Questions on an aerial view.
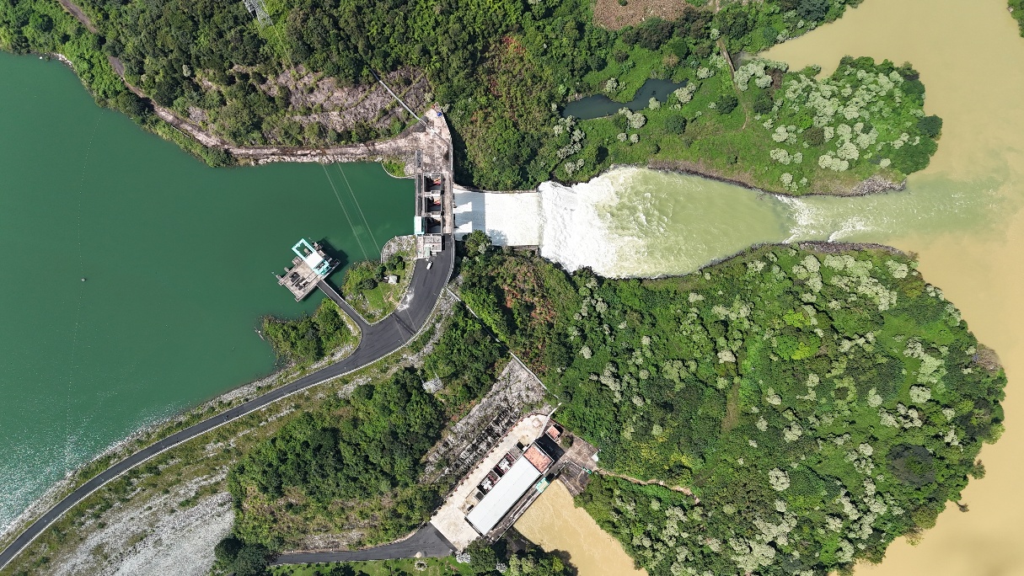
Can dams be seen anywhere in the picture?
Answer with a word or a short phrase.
Yes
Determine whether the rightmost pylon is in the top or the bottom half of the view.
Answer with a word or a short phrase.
bottom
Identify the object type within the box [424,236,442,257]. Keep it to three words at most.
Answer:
building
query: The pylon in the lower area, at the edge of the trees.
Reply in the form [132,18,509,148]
[420,369,444,390]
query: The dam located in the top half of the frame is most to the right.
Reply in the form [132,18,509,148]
[415,169,541,250]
